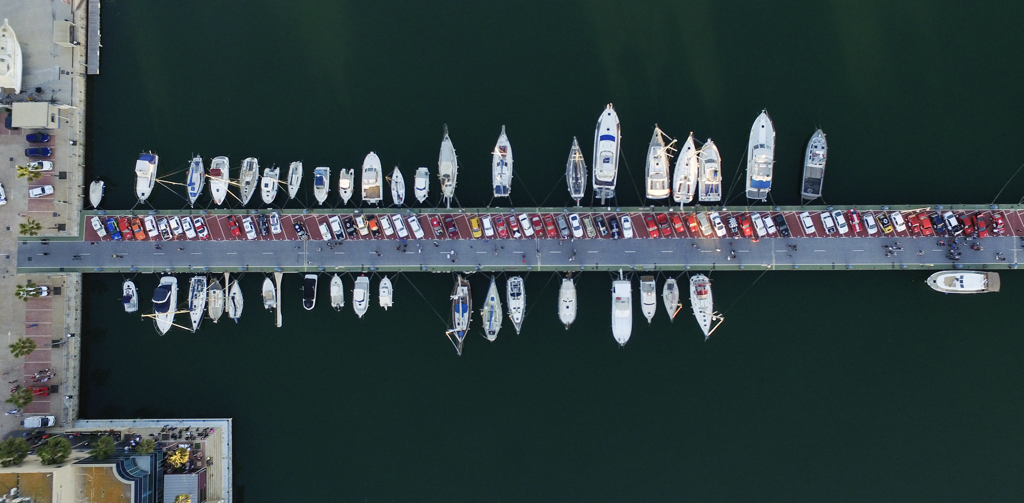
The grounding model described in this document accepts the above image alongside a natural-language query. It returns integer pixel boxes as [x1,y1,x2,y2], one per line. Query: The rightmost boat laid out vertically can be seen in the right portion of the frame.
[801,129,829,204]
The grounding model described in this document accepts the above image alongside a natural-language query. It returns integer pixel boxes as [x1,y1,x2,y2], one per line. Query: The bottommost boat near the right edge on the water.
[926,270,1007,294]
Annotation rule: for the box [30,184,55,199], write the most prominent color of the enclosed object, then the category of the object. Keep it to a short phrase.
white car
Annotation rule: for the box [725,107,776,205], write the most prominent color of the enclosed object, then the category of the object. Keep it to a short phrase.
white boat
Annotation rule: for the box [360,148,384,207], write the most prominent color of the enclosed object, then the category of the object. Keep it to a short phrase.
white boat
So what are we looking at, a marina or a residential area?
marina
